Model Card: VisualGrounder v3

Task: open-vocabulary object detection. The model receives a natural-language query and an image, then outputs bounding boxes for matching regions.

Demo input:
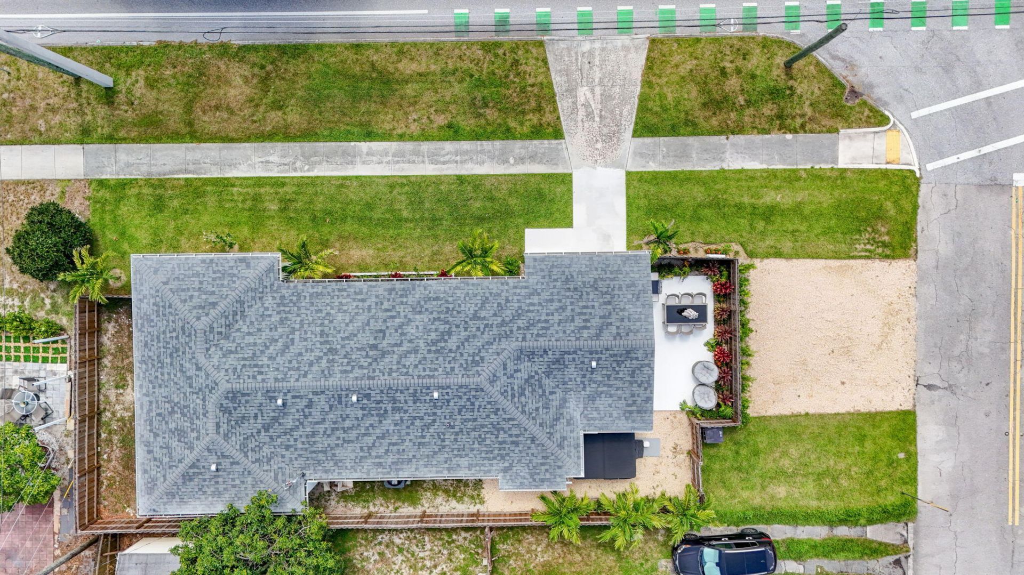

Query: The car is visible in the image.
[669,531,774,575]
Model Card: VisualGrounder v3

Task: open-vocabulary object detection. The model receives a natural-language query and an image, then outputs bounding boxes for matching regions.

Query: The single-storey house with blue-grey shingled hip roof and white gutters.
[130,250,656,517]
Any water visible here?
No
